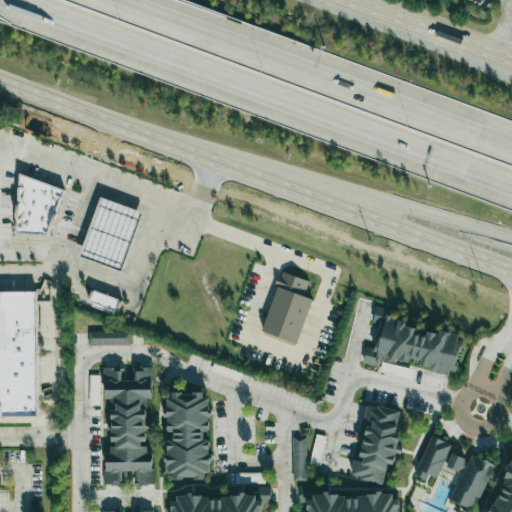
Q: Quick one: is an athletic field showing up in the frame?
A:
No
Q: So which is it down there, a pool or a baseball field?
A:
pool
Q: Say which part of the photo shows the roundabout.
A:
bottom right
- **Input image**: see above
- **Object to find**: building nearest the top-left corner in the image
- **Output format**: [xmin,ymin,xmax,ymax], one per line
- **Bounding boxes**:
[17,174,66,236]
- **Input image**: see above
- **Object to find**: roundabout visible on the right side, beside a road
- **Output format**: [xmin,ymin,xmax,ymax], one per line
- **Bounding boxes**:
[454,357,512,438]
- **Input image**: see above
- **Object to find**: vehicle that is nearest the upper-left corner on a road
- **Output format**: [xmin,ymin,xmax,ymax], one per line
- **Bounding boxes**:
[8,3,54,26]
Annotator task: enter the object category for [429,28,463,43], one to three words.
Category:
vehicle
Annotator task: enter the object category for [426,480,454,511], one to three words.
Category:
swimming pool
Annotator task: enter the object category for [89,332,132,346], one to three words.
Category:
building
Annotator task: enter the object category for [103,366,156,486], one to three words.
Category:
building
